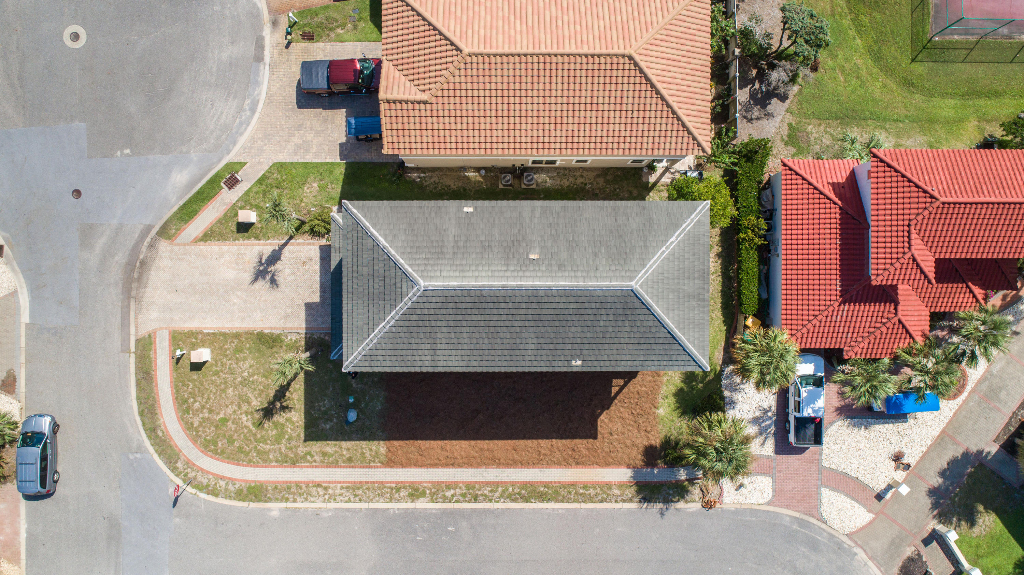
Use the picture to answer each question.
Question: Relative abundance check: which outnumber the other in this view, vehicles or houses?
vehicles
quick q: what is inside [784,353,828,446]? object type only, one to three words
truck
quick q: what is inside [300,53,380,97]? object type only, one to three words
truck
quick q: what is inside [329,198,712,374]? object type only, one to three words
house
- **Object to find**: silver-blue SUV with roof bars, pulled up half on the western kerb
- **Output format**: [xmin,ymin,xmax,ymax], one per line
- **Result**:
[13,412,63,496]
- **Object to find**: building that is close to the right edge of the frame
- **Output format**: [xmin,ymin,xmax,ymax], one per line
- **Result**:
[767,146,1024,360]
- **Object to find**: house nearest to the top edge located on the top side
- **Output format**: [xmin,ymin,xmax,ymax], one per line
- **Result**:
[375,0,713,174]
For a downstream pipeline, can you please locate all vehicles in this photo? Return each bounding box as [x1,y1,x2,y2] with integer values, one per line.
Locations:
[865,388,940,415]
[784,353,828,446]
[300,53,380,97]
[13,412,63,496]
[346,115,380,143]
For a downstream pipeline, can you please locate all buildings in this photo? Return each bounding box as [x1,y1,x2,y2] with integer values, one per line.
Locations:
[767,146,1024,360]
[329,198,712,374]
[375,0,713,174]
